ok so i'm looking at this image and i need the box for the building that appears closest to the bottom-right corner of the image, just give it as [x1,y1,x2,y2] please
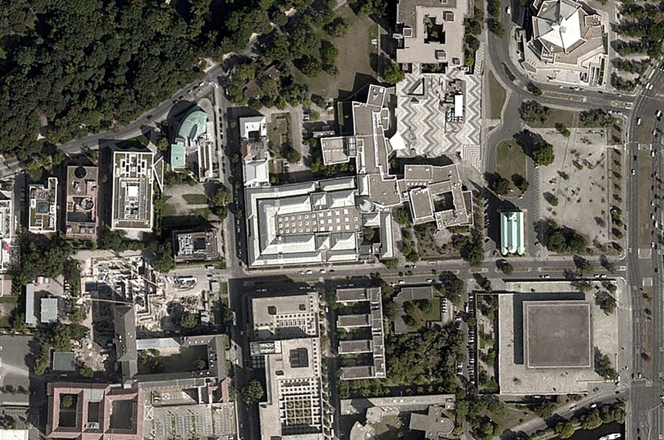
[500,282,618,394]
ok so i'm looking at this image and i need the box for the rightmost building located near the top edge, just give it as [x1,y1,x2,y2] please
[523,0,603,73]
